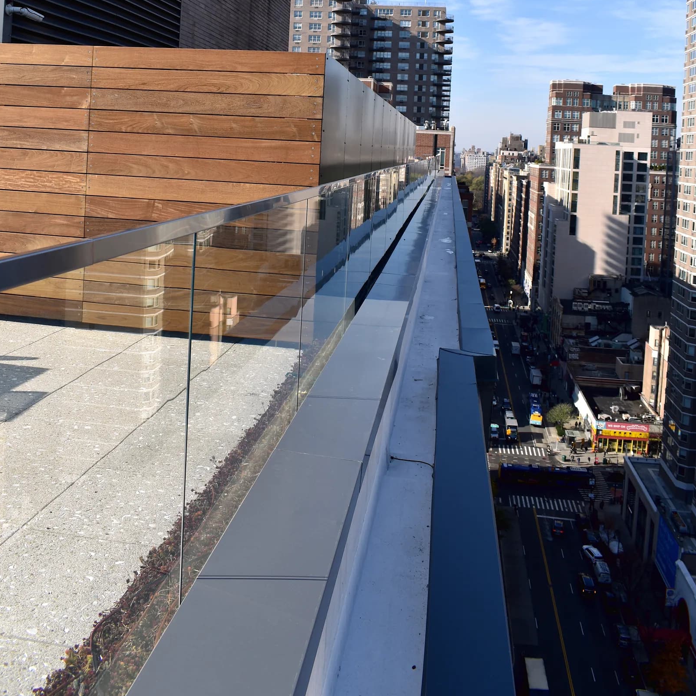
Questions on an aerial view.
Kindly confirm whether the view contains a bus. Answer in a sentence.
Yes, looking at the shot, I can spot a bus.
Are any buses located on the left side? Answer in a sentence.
No, no bus is visible on the left side.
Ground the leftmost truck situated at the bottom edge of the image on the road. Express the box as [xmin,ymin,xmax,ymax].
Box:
[521,653,551,696]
